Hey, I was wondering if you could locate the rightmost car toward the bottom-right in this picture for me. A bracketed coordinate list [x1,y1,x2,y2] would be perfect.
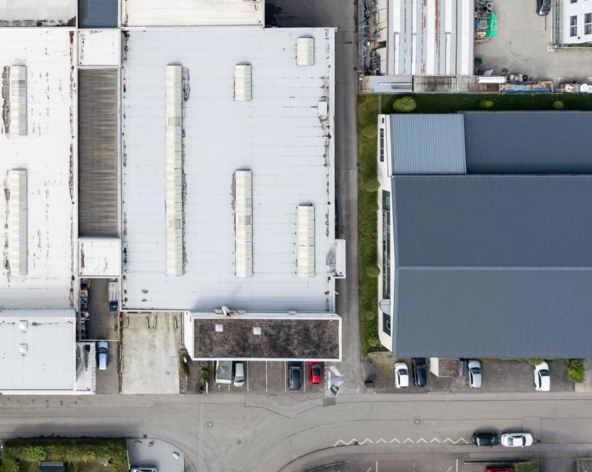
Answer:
[531,359,552,394]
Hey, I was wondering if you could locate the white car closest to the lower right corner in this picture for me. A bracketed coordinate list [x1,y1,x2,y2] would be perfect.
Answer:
[499,431,534,448]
